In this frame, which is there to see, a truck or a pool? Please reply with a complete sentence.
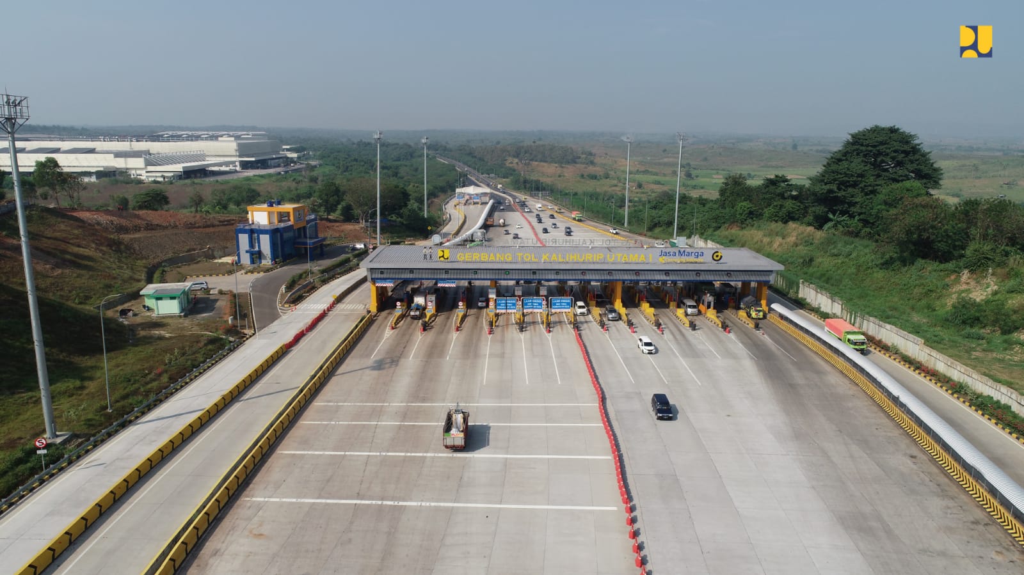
It is a truck that can be seen here.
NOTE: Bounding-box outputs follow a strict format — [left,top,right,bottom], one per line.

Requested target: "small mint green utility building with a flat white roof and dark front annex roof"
[125,280,198,316]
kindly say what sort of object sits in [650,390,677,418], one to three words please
car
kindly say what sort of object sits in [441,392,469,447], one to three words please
truck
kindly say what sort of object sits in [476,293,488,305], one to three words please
vehicle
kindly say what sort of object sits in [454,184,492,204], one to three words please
toll station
